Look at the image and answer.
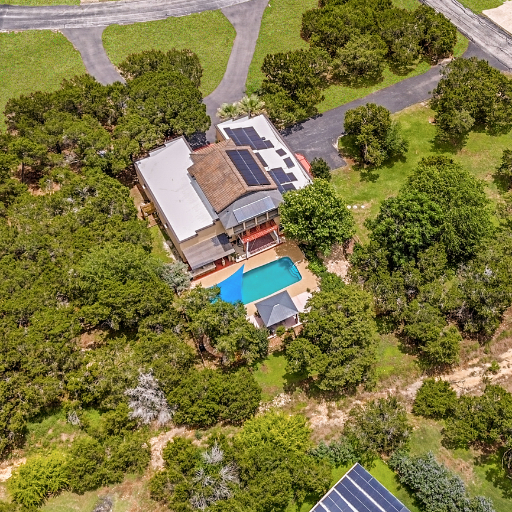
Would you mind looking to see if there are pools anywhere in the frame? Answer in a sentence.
Yes, you can see a pool in this photo.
